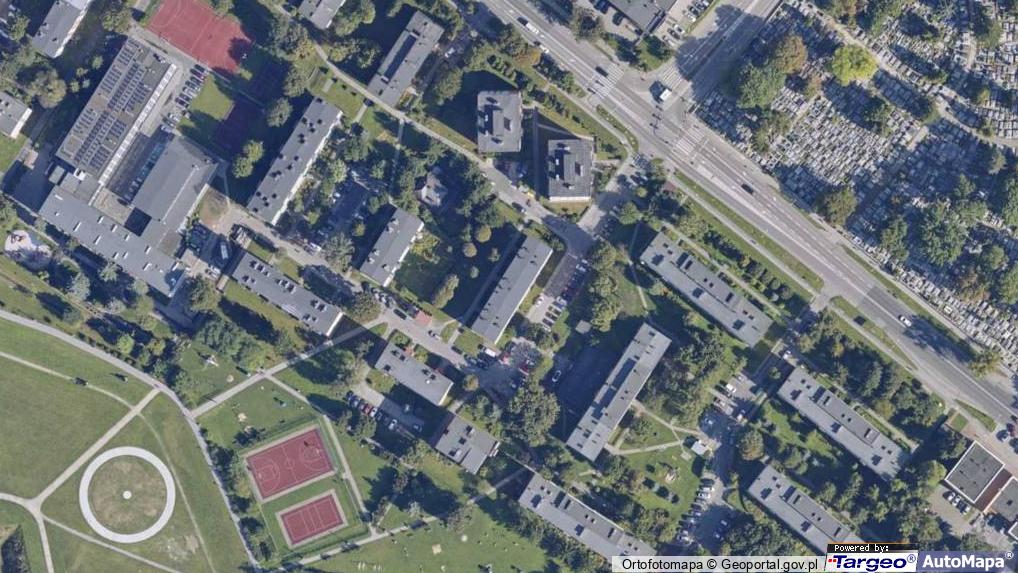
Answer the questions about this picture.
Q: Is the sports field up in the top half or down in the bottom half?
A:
top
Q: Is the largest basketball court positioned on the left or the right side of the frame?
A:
left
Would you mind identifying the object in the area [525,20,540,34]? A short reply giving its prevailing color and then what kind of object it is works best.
white vehicle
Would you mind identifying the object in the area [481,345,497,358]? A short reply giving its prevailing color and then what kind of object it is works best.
white vehicle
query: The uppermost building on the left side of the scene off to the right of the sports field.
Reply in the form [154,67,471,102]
[296,0,344,32]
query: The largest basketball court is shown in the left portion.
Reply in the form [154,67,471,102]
[242,425,338,503]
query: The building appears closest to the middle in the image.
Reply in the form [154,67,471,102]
[470,234,552,347]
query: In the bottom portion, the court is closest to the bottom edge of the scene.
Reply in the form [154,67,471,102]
[275,488,349,550]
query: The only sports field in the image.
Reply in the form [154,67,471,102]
[148,0,257,73]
